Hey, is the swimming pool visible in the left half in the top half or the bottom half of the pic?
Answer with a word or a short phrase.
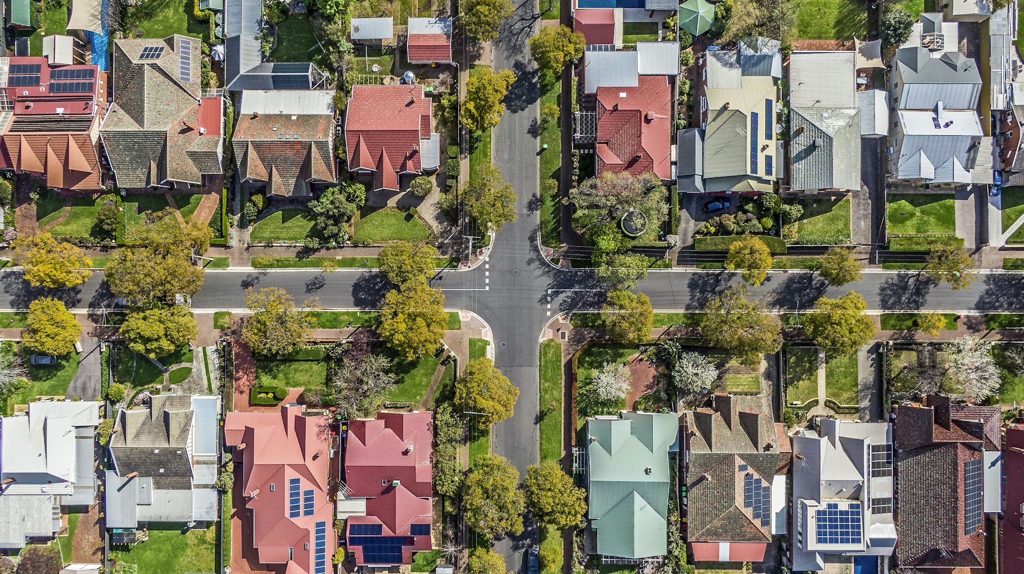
top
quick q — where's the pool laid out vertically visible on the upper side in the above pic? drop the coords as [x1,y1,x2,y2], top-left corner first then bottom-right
[82,0,110,72]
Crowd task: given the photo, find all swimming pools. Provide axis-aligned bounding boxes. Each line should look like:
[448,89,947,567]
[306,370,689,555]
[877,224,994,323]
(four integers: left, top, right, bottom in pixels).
[82,0,110,72]
[854,556,879,574]
[577,0,644,8]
